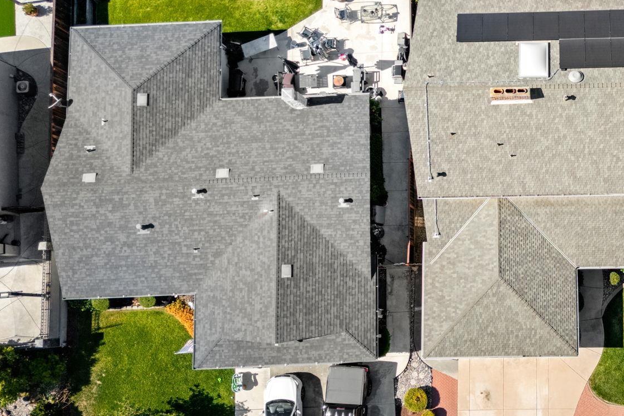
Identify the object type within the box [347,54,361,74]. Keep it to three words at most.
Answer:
umbrella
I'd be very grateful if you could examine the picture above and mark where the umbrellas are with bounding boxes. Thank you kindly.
[281,56,304,77]
[347,54,361,74]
